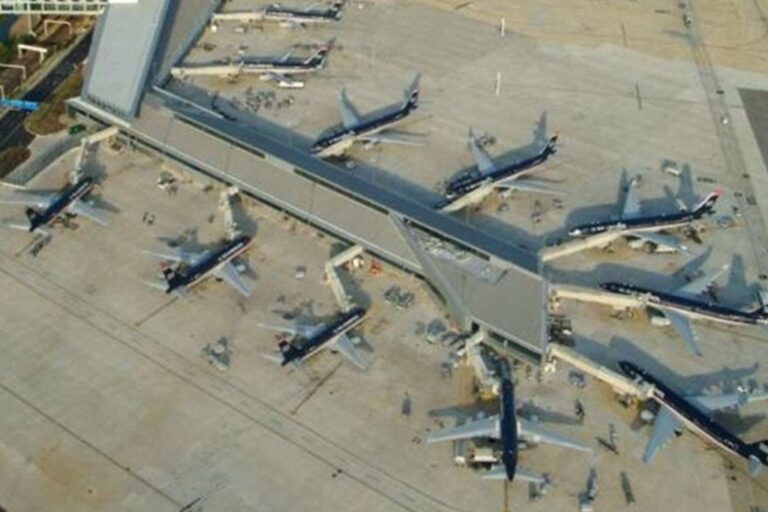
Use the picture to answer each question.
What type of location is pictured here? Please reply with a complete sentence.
This looks like an airport.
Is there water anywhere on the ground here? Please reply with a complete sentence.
No, the picture contains no water.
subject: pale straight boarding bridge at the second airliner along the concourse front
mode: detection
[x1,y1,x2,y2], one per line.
[221,186,244,241]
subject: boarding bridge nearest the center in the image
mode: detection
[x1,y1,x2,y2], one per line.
[326,243,362,314]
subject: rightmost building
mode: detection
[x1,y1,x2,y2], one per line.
[64,0,548,383]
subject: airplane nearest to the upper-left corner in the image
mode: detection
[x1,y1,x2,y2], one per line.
[0,175,111,236]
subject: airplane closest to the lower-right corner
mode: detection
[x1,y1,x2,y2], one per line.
[617,361,768,478]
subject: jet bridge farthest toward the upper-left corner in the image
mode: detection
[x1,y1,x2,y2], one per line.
[70,126,120,184]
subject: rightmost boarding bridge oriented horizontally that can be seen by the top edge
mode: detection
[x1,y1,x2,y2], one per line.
[210,7,266,33]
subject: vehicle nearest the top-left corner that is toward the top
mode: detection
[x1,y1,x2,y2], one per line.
[66,123,87,136]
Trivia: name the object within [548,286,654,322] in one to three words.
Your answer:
jet bridge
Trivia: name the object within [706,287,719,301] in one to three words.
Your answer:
vehicle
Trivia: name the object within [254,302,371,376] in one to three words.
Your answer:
airplane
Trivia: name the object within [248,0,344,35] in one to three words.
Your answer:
airplane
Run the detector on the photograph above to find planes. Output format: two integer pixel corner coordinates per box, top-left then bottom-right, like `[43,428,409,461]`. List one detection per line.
[0,175,111,236]
[310,85,431,159]
[220,41,324,91]
[248,0,344,35]
[426,378,593,483]
[141,233,252,300]
[254,302,371,376]
[602,267,768,352]
[617,361,768,478]
[447,130,571,200]
[568,181,724,256]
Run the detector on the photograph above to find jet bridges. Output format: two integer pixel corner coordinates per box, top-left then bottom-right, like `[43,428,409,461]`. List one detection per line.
[210,7,266,33]
[221,186,244,241]
[548,286,654,322]
[436,174,494,219]
[303,130,357,166]
[70,126,120,184]
[463,327,511,396]
[536,219,632,265]
[326,243,362,314]
[543,343,664,406]
[170,60,244,89]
